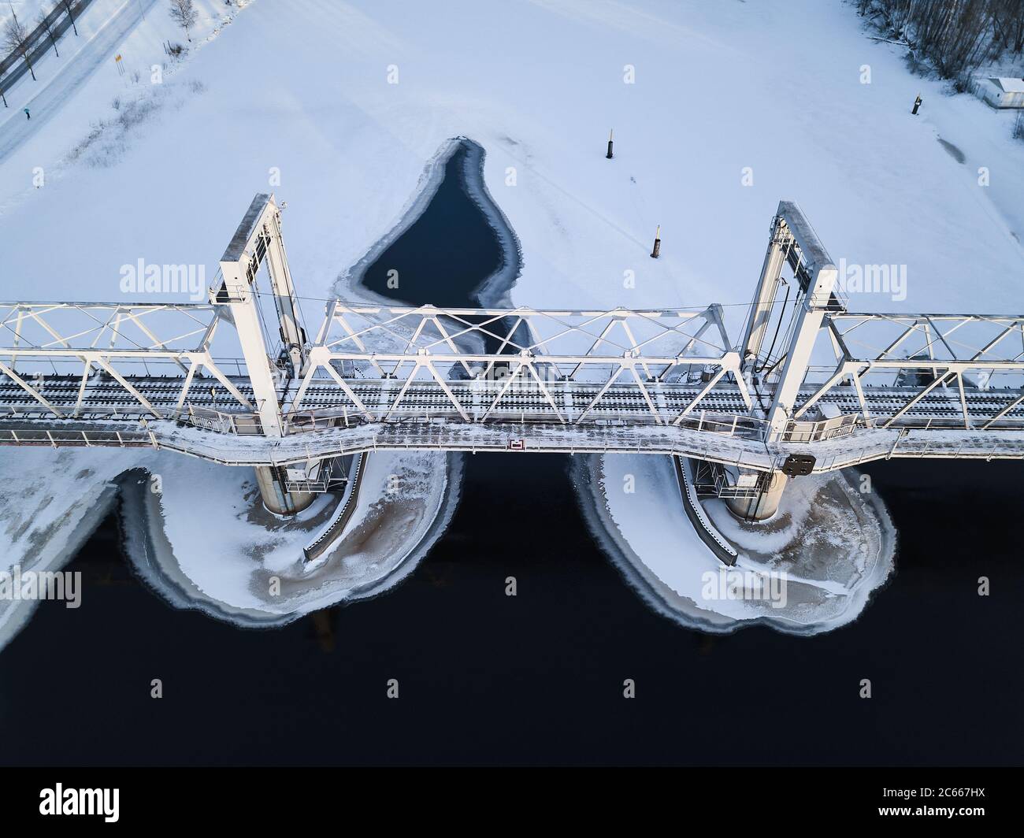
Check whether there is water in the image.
Yes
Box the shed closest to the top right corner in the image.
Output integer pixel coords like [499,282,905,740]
[957,75,1024,109]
